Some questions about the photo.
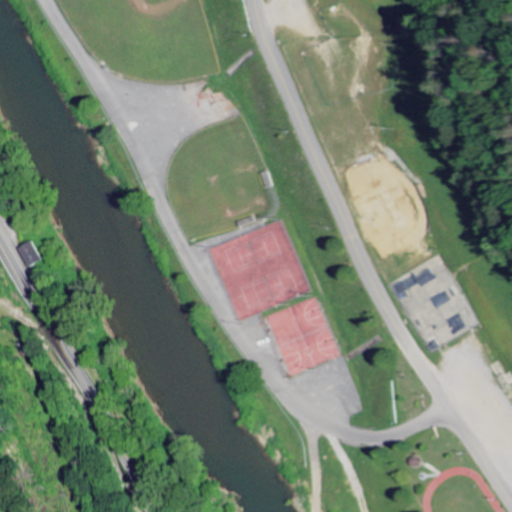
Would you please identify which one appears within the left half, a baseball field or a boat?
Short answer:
baseball field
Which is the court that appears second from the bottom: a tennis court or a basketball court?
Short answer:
basketball court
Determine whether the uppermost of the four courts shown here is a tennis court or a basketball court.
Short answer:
tennis court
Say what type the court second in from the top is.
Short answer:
tennis court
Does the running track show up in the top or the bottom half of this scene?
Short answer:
bottom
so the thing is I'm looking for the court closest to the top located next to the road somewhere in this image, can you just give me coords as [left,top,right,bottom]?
[210,221,296,284]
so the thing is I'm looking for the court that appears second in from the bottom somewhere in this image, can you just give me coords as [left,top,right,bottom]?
[266,298,328,346]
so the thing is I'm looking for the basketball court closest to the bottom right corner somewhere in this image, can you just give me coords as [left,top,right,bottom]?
[278,328,340,376]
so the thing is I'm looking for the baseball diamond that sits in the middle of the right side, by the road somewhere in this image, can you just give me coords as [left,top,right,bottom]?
[346,158,428,258]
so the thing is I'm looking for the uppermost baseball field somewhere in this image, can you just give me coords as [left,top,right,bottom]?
[54,0,219,82]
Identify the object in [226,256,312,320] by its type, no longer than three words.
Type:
tennis court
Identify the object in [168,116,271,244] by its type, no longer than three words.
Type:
baseball field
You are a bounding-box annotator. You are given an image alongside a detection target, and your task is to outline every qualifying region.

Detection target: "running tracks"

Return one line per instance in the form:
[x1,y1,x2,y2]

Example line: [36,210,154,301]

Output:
[422,467,504,512]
